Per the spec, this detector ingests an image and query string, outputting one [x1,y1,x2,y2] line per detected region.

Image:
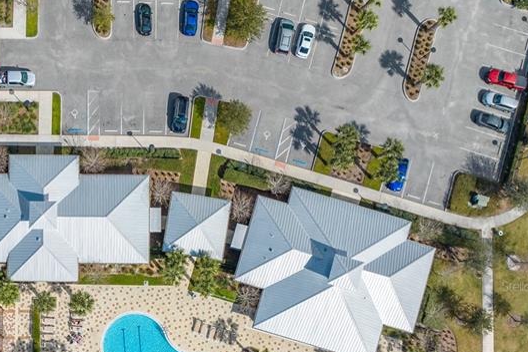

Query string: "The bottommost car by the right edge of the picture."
[470,111,508,133]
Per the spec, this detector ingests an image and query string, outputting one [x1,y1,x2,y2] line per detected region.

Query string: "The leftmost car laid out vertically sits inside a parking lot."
[136,2,153,39]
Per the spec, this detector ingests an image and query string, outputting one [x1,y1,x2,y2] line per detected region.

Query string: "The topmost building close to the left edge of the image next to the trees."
[0,155,149,281]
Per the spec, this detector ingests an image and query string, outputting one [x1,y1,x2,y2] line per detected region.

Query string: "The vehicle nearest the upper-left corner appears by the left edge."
[0,69,36,88]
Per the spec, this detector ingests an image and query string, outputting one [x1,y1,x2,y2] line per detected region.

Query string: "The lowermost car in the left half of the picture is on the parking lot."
[172,95,190,133]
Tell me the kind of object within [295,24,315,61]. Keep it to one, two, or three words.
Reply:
car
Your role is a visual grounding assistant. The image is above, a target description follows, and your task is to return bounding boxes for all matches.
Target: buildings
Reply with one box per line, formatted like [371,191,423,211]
[234,187,436,352]
[163,191,232,260]
[0,155,149,281]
